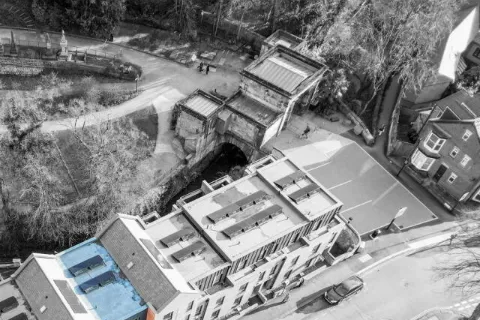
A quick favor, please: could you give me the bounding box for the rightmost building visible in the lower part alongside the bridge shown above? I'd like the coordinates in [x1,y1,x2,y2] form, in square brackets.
[246,150,346,286]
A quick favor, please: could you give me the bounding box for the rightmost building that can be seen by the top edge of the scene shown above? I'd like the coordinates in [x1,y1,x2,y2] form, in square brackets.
[398,2,480,115]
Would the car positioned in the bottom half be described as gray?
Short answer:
Yes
